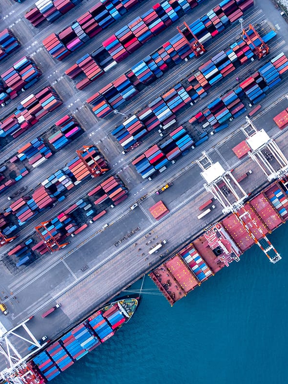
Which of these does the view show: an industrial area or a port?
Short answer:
port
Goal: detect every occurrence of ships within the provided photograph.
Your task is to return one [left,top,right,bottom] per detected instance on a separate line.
[149,174,288,306]
[0,297,140,384]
